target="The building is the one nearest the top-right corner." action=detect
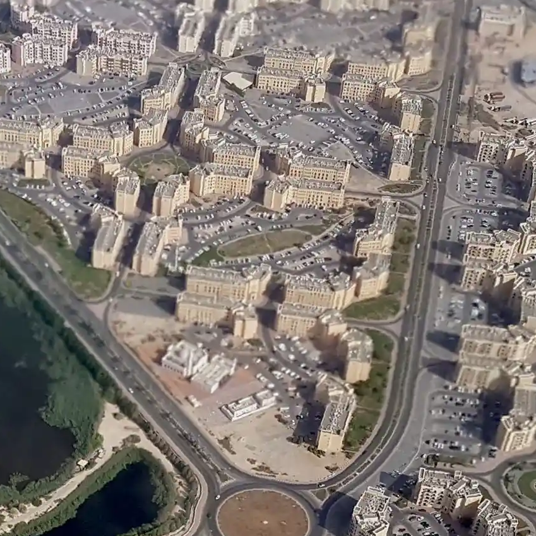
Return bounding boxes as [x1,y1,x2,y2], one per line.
[471,4,525,39]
